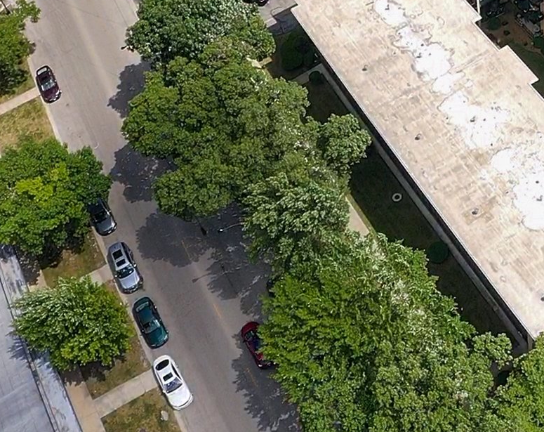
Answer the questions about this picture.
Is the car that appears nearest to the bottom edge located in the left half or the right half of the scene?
left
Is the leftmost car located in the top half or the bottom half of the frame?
top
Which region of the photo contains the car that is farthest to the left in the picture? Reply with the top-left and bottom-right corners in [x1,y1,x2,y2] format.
[32,64,64,106]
